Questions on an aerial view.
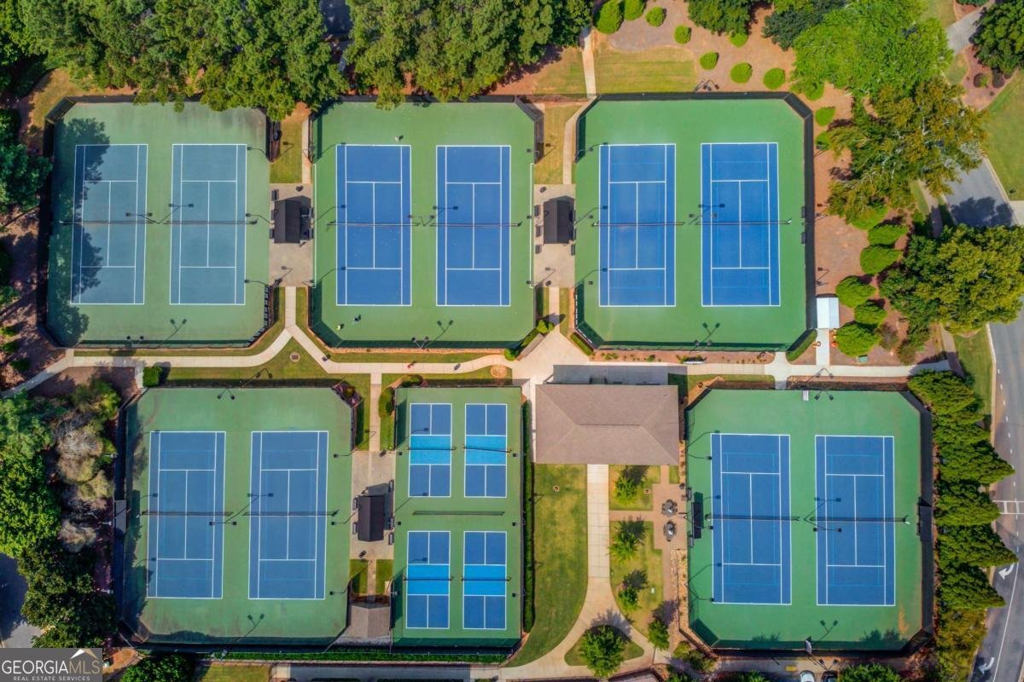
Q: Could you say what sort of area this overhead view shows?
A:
sports ground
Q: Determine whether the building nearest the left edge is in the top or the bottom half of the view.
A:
top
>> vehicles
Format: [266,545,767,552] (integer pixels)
[801,672,817,682]
[823,673,839,682]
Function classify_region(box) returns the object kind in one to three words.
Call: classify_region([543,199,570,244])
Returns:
building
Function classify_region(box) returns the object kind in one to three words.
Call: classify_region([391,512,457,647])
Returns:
sports court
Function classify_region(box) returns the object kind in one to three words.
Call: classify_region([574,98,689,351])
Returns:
tennis court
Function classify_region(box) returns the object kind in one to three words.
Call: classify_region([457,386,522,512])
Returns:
sports court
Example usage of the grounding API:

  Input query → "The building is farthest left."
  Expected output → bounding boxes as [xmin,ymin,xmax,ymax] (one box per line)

[274,198,302,243]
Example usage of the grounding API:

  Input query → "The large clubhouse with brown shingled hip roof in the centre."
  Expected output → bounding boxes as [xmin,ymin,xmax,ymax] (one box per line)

[535,385,680,465]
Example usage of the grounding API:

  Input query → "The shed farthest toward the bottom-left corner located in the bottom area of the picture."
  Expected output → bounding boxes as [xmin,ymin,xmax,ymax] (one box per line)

[350,598,390,642]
